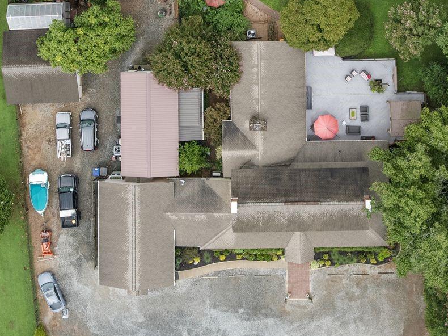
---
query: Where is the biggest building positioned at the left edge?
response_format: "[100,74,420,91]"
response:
[2,27,83,104]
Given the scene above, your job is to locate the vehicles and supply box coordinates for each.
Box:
[77,109,99,152]
[56,175,79,227]
[53,111,73,156]
[40,271,65,314]
[41,232,56,257]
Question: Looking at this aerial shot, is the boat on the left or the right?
left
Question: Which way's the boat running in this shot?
from top to bottom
